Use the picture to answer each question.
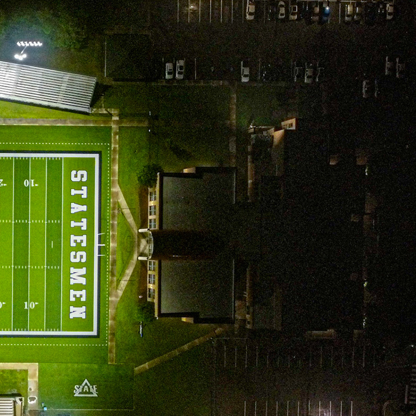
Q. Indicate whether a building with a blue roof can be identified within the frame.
No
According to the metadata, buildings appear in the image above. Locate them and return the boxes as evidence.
[136,166,235,324]
[243,119,371,340]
